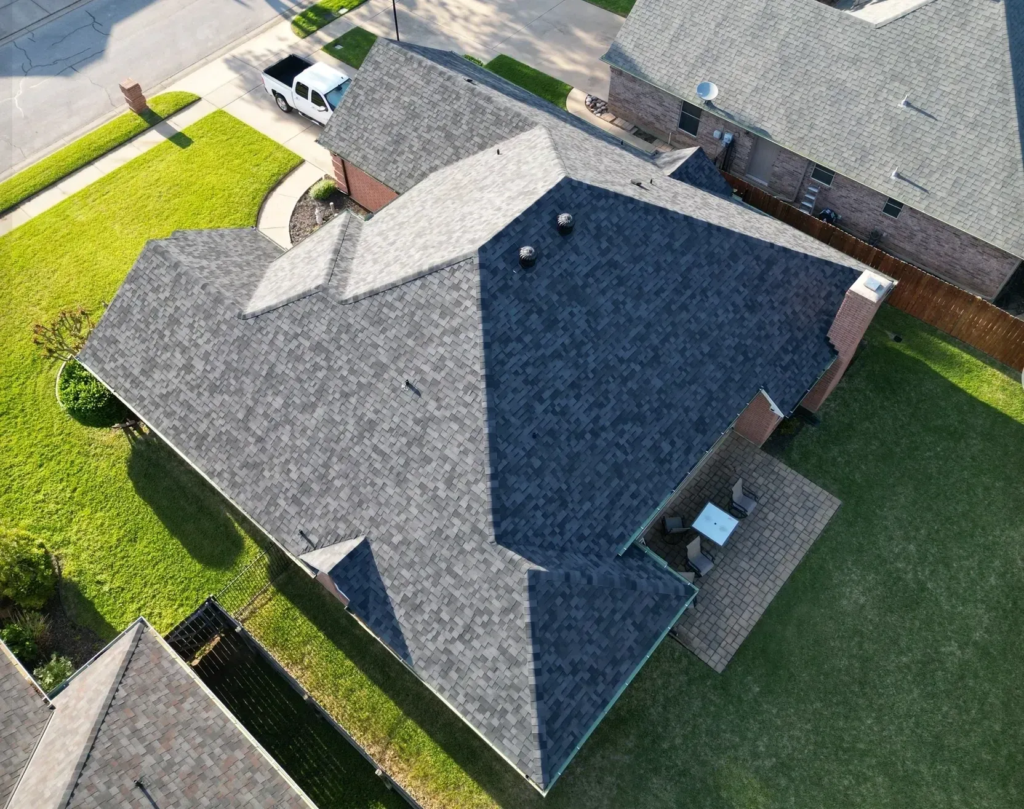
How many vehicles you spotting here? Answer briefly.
1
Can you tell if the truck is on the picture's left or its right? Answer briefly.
left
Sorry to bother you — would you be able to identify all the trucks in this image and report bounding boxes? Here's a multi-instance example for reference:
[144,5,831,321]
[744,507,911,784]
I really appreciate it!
[260,54,350,132]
